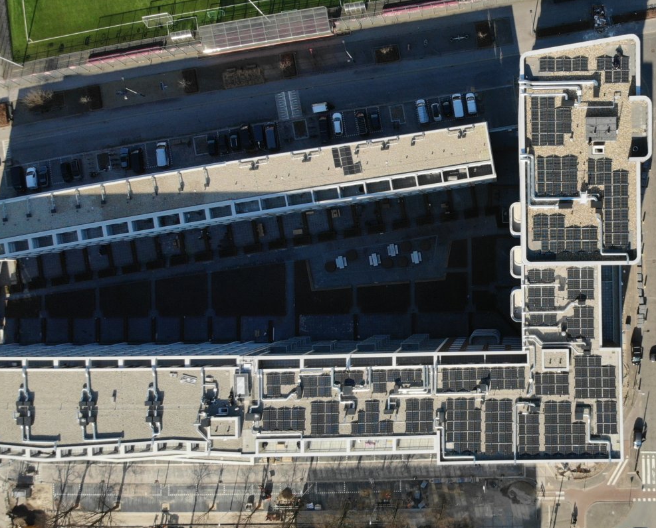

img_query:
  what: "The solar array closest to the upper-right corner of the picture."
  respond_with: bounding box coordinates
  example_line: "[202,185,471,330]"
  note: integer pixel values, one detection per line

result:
[596,59,628,84]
